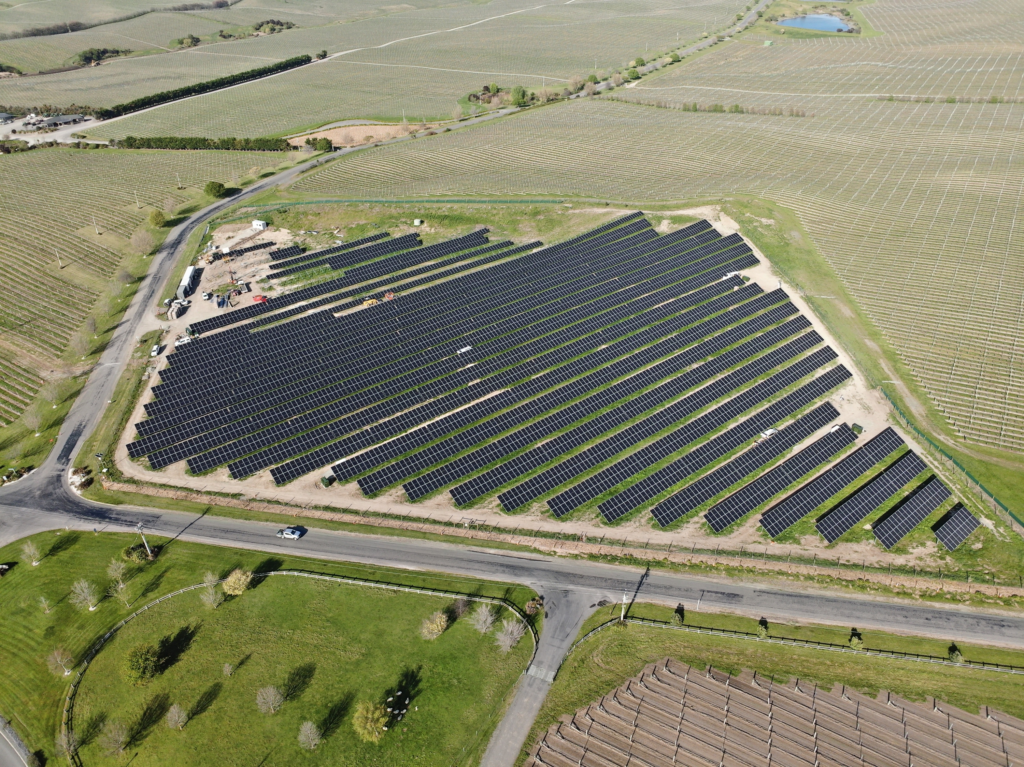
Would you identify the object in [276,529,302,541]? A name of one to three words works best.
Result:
vehicle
